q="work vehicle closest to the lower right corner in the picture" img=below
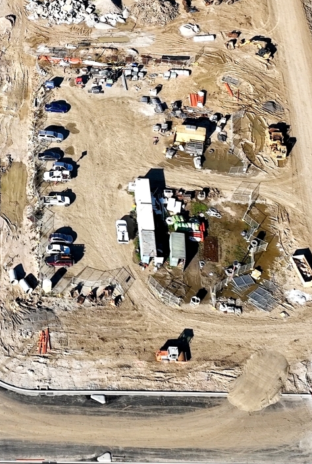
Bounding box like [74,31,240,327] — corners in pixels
[155,343,194,364]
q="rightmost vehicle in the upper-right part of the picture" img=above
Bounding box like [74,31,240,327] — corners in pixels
[231,36,281,62]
